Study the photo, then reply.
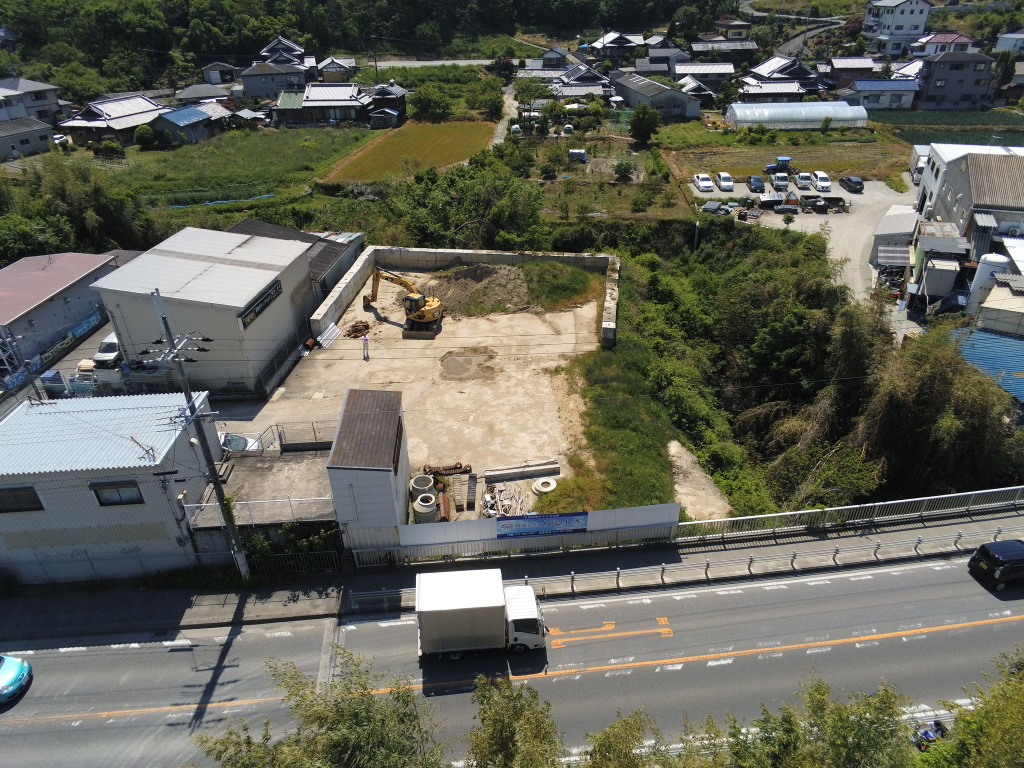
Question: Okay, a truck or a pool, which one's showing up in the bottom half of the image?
truck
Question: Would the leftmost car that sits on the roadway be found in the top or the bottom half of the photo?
bottom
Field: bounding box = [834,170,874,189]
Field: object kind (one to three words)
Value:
car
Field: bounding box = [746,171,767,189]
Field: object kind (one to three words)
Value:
car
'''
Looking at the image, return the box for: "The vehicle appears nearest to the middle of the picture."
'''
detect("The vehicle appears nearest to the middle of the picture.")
[356,256,440,337]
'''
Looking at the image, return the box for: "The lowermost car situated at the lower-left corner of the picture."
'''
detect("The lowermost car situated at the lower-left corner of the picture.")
[0,654,36,714]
